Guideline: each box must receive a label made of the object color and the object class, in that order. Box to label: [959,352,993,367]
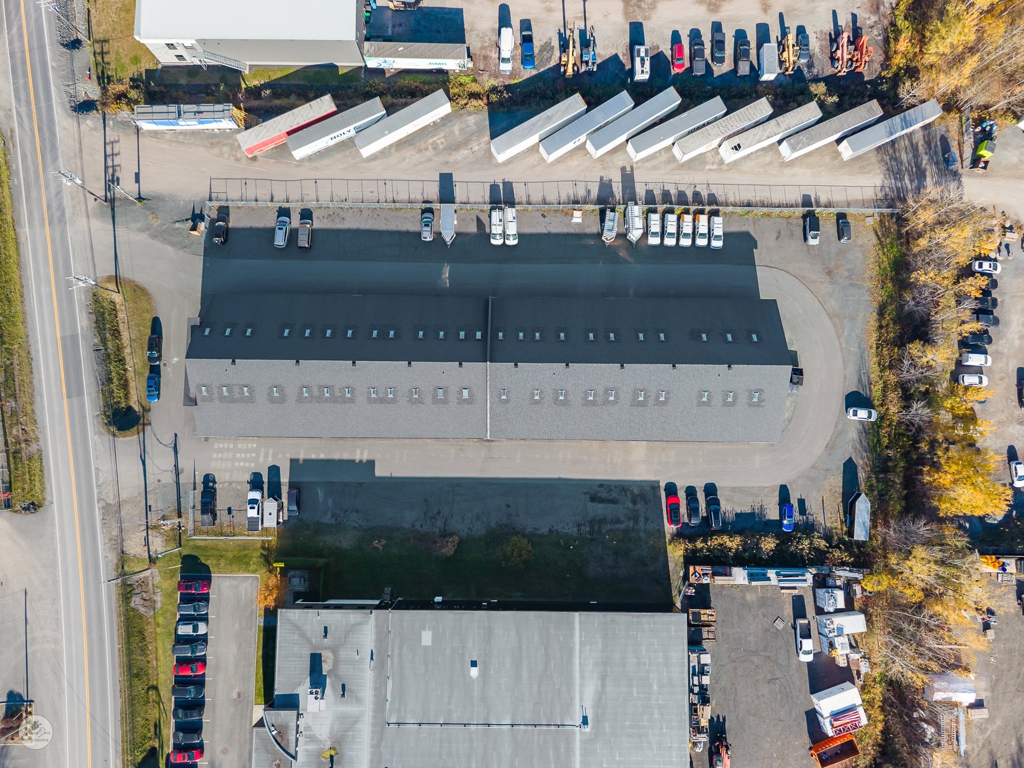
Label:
white car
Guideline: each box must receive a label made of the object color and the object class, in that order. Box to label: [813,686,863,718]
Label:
white shipping container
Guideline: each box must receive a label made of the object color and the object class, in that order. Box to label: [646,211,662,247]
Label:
white vehicle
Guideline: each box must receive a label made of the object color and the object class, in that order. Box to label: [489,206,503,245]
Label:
white vehicle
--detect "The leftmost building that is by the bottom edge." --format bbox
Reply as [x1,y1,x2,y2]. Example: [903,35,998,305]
[247,588,692,768]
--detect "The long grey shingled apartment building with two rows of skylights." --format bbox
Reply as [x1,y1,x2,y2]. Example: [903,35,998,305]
[183,295,794,443]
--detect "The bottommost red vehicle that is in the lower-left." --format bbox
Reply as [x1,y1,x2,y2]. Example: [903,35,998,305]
[170,746,203,765]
